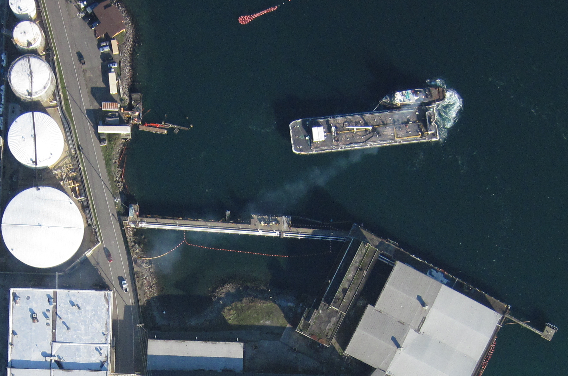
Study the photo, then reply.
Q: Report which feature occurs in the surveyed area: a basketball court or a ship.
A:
ship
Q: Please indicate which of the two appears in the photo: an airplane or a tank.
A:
tank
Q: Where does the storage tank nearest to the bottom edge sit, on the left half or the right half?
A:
left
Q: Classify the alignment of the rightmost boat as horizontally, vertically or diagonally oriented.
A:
horizontally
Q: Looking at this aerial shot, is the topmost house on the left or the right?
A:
left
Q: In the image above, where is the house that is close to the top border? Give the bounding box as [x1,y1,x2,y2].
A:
[93,0,126,39]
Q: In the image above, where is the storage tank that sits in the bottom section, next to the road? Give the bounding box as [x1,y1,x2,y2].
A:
[1,185,86,270]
